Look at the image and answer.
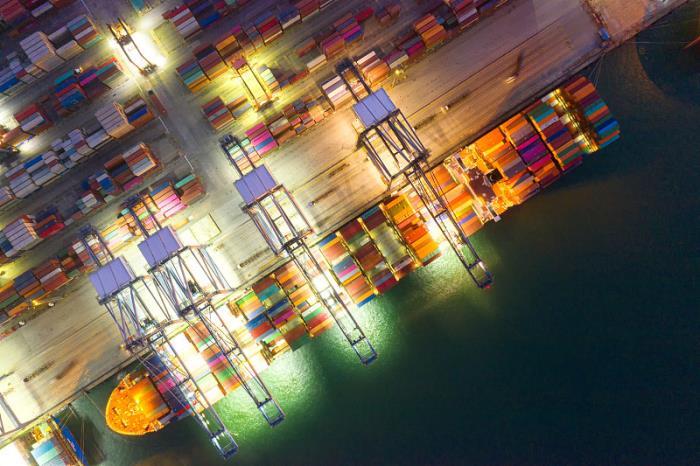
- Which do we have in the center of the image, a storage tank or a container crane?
container crane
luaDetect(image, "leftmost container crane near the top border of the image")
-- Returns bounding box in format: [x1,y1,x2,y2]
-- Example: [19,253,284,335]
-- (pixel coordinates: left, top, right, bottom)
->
[105,15,157,73]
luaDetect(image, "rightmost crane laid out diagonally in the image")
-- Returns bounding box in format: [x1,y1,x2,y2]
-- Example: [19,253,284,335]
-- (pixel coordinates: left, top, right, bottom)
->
[336,61,492,290]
